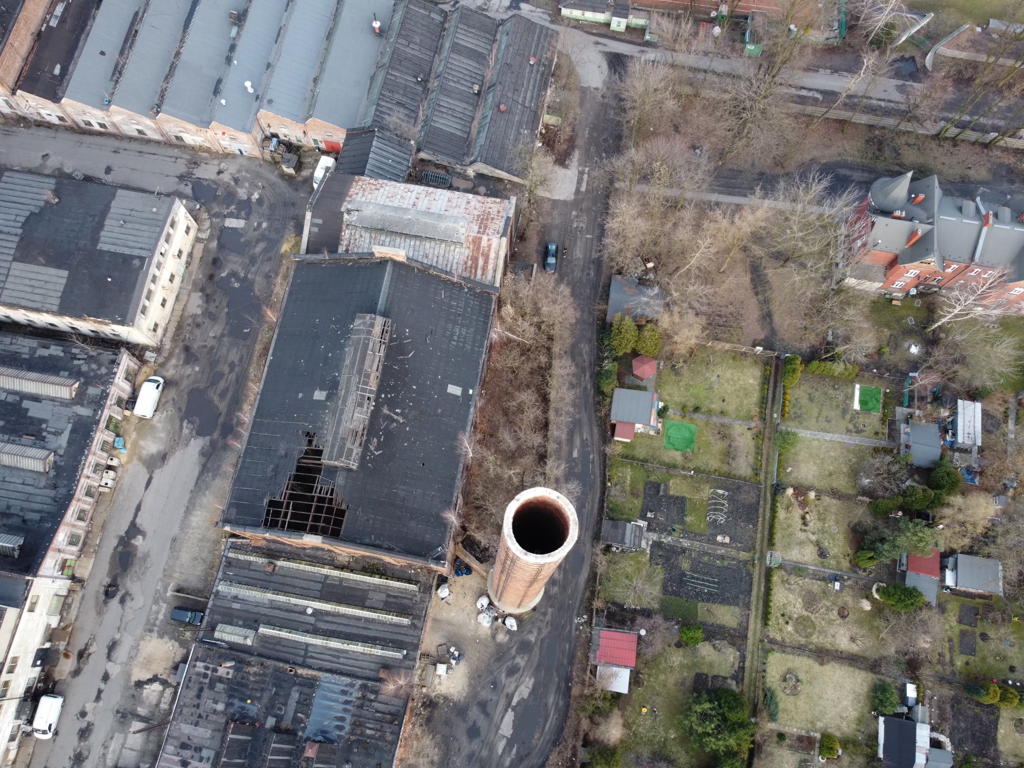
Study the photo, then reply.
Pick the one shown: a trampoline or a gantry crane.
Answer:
trampoline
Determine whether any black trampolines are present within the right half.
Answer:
No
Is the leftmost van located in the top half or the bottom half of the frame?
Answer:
bottom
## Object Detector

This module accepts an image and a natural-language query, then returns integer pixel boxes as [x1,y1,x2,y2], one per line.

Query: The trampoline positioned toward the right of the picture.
[664,420,696,452]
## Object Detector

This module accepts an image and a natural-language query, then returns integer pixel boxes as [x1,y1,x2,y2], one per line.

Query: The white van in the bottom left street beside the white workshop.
[29,691,64,743]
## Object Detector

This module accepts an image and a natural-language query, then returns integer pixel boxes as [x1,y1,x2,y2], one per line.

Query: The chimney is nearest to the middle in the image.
[486,488,577,616]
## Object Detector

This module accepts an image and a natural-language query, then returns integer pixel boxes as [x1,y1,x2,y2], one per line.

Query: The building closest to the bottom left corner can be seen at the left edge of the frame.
[0,570,80,768]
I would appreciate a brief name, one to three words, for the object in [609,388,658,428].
building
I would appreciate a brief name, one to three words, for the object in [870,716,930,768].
house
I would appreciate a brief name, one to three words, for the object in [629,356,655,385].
gazebo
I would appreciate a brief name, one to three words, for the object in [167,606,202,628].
car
